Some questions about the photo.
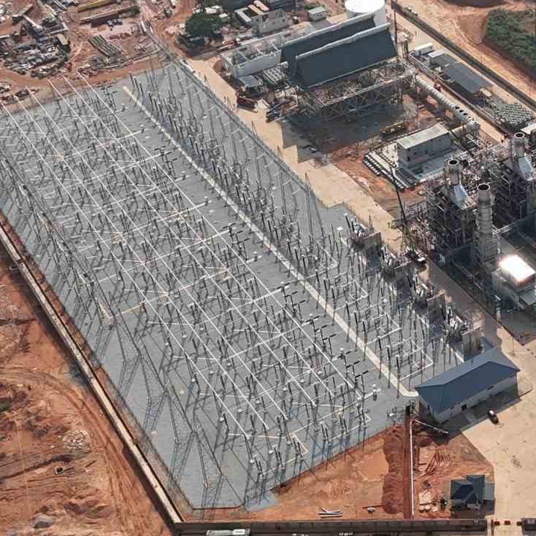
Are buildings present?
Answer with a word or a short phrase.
Yes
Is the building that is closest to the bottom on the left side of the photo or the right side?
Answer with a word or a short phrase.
right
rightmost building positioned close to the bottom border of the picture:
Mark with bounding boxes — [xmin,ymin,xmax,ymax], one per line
[447,478,485,515]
